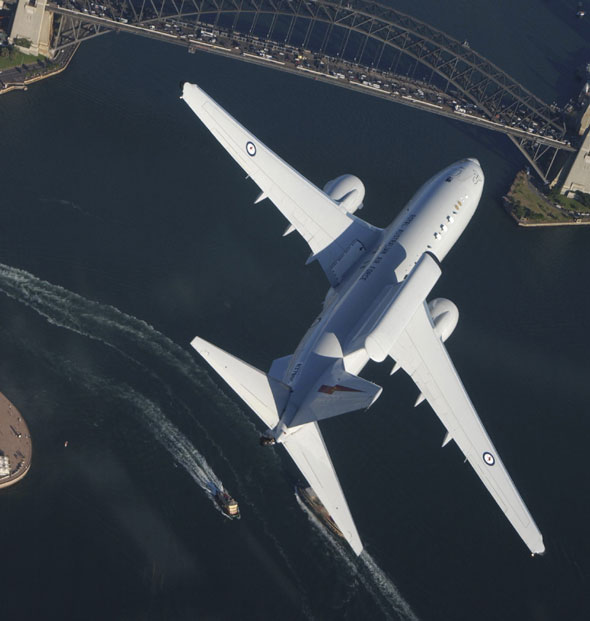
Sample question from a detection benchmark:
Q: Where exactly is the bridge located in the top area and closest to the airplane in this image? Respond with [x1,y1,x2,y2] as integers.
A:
[45,0,585,184]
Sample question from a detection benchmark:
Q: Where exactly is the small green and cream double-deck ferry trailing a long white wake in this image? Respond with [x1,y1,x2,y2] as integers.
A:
[219,489,244,519]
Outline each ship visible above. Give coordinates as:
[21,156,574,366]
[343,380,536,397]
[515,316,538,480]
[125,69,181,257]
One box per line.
[299,481,352,546]
[219,489,244,519]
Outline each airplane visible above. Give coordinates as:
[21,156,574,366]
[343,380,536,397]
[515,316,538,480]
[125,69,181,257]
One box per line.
[175,75,541,553]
